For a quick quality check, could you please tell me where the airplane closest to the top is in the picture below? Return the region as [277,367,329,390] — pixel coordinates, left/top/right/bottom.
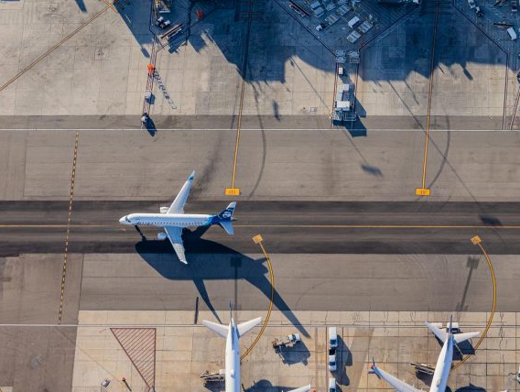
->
[120,171,236,265]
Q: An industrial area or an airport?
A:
airport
